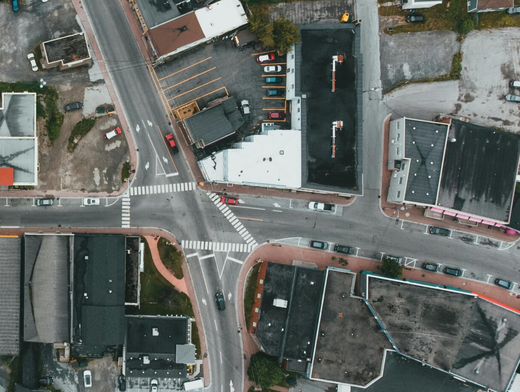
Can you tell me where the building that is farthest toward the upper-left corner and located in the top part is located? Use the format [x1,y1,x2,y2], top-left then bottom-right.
[39,33,91,70]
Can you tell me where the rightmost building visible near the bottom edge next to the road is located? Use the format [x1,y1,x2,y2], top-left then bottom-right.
[352,270,520,392]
